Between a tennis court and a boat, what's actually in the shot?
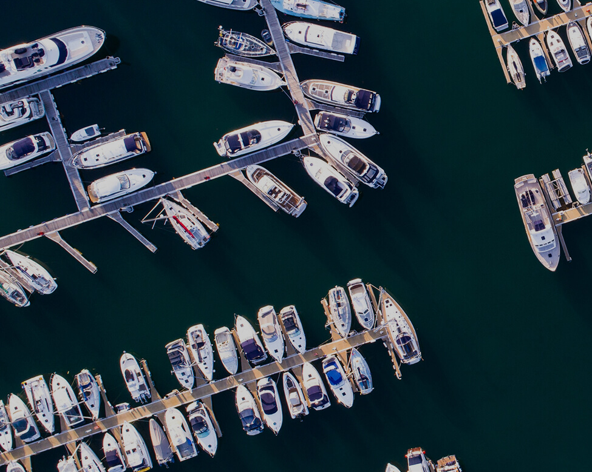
boat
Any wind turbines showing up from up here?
No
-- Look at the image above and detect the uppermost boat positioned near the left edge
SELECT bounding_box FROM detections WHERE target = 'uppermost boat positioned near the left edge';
[0,27,108,86]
